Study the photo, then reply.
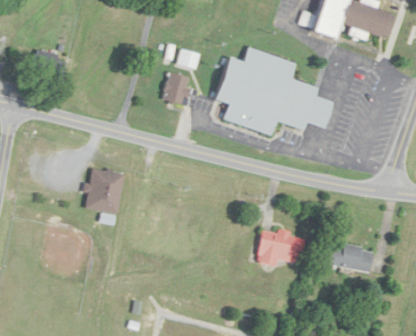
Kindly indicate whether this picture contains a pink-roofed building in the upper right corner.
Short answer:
No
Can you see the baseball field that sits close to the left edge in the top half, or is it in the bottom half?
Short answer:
bottom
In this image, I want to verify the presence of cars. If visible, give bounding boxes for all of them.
[355,74,366,79]
[366,94,374,102]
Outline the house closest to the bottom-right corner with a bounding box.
[332,244,374,274]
